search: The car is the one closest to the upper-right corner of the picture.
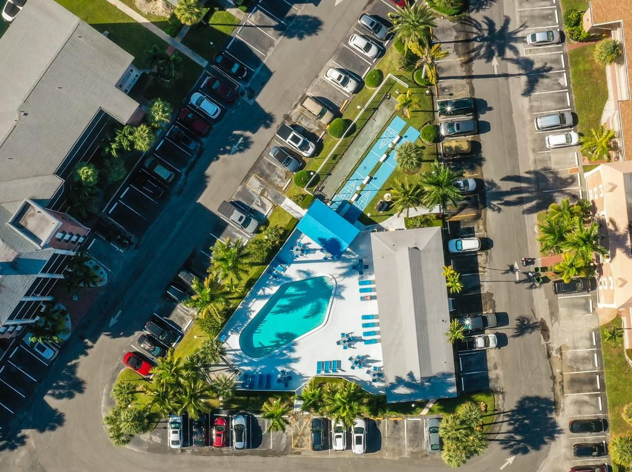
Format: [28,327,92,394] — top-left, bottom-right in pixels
[525,29,561,47]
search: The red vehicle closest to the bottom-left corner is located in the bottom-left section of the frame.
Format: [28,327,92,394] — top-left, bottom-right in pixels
[122,349,153,378]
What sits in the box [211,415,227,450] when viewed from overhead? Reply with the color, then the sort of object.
red car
